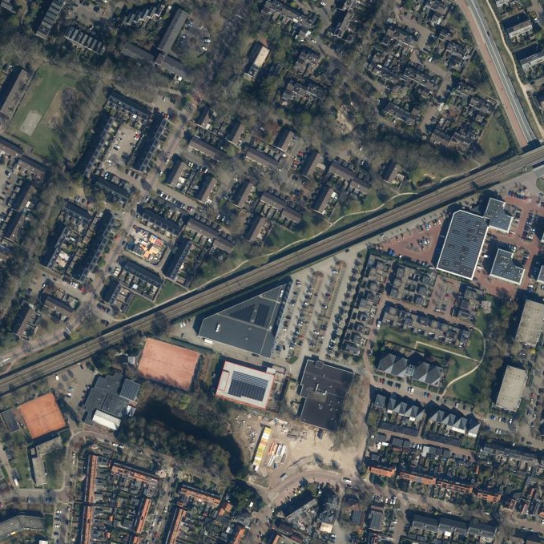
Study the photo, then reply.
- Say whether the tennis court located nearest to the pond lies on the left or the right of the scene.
left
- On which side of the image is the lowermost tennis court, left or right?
left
